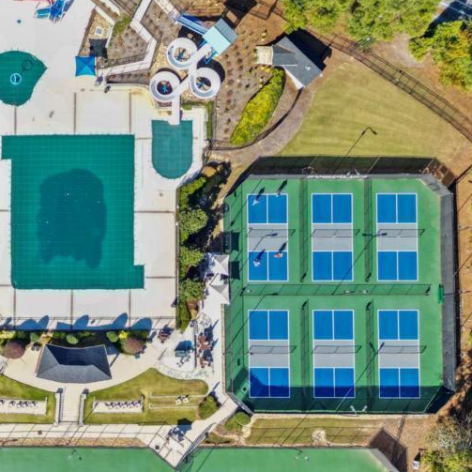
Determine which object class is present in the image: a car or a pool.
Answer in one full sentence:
Visible in the photo is a pool.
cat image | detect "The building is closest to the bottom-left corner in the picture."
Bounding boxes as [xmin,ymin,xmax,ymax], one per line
[36,344,111,384]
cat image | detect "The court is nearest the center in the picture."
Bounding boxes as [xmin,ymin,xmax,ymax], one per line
[248,194,292,282]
